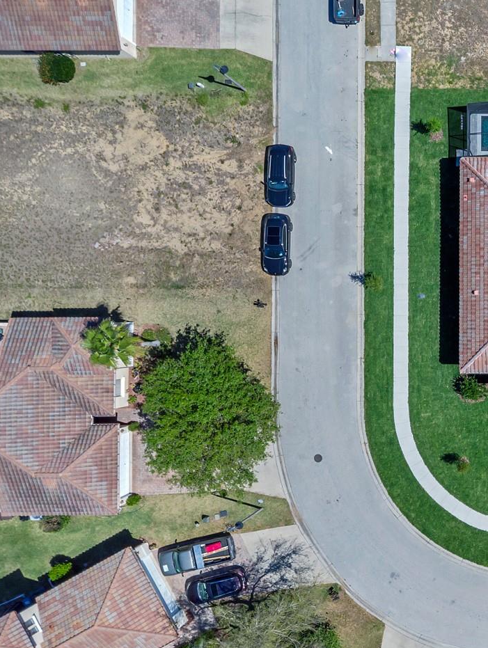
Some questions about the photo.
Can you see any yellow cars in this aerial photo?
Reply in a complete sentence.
No, no yellow car is visible in the view.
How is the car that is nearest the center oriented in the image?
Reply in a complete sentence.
From this overhead view, the car that is nearest the center appears to run from top to bottom.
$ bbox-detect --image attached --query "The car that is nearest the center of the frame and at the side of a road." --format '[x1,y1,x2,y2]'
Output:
[260,213,294,277]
